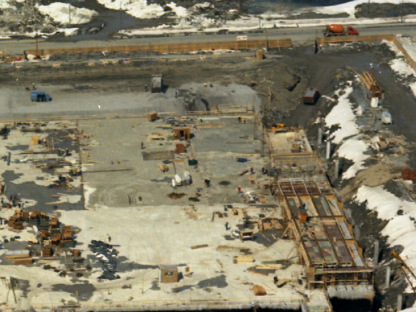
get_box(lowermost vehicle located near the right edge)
[379,110,396,126]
